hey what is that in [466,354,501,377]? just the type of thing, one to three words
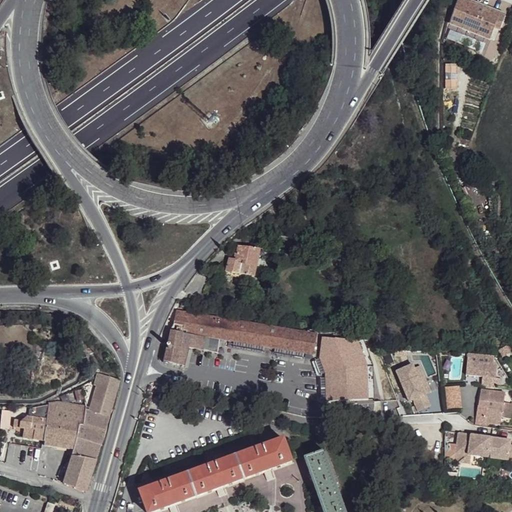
house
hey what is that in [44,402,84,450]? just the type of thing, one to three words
house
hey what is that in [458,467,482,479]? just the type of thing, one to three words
swimming pool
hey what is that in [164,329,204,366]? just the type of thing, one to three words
building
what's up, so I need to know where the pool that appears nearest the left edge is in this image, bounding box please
[412,354,436,378]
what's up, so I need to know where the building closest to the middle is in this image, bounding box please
[226,245,262,278]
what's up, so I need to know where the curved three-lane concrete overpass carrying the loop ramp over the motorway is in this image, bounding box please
[13,92,101,177]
